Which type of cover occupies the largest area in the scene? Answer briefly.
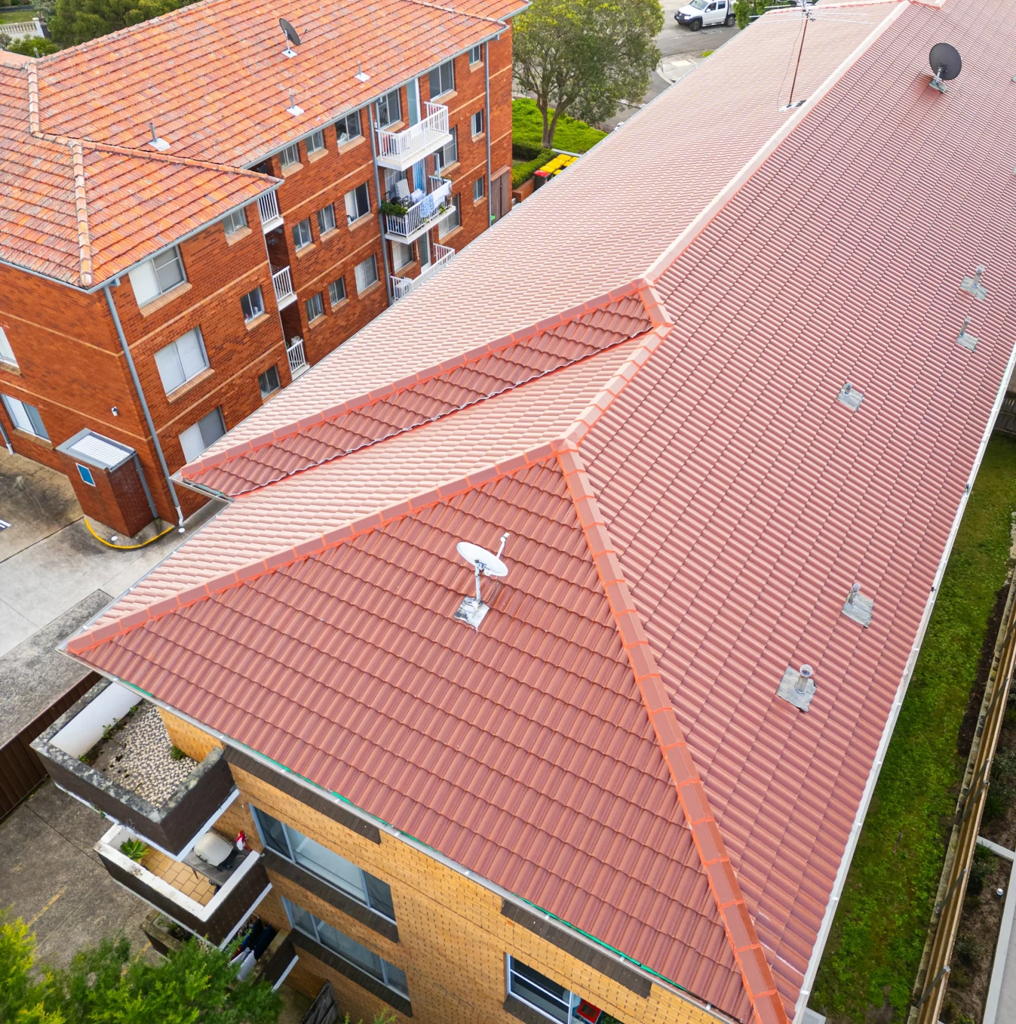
buildings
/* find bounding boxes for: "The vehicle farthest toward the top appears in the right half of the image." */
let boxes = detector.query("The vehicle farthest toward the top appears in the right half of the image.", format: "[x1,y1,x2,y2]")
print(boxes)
[675,0,741,31]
